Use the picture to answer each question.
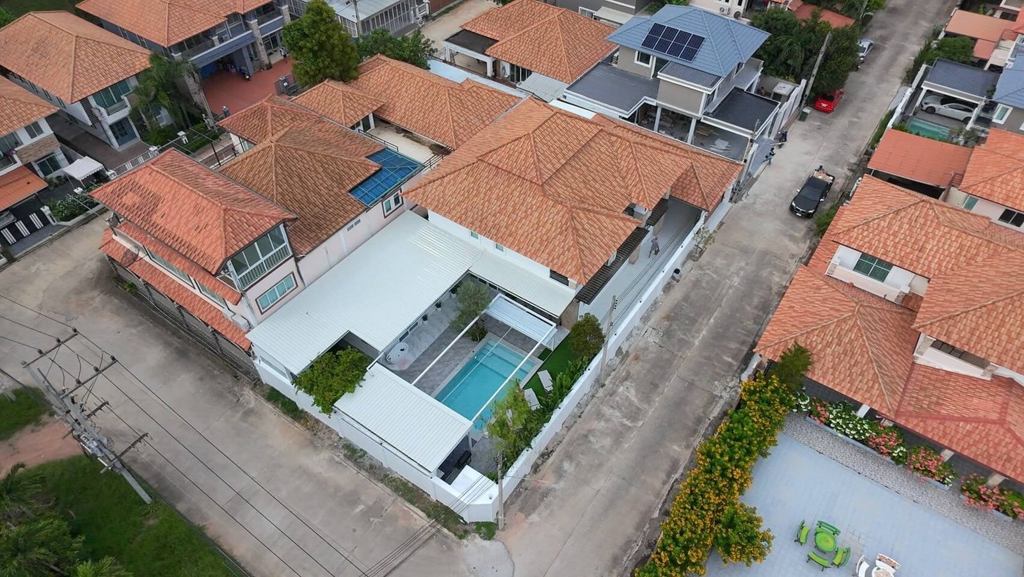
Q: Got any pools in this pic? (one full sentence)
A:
Yes, this view includes a pool.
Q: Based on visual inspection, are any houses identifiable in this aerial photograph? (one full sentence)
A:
Yes, a house can be made out from above.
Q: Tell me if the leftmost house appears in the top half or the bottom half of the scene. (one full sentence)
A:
Seen from above, the leftmost house lies in the top half of the view.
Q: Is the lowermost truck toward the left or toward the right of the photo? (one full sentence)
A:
You can find the lowermost truck on the right side of the picture.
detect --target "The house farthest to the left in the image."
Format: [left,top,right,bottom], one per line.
[0,76,69,213]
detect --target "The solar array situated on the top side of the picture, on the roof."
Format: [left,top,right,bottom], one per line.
[639,14,704,57]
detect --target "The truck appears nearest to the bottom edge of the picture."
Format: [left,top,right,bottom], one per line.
[790,166,840,217]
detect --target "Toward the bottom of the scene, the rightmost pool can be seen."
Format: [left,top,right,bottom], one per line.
[430,330,545,444]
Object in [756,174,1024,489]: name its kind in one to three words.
house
